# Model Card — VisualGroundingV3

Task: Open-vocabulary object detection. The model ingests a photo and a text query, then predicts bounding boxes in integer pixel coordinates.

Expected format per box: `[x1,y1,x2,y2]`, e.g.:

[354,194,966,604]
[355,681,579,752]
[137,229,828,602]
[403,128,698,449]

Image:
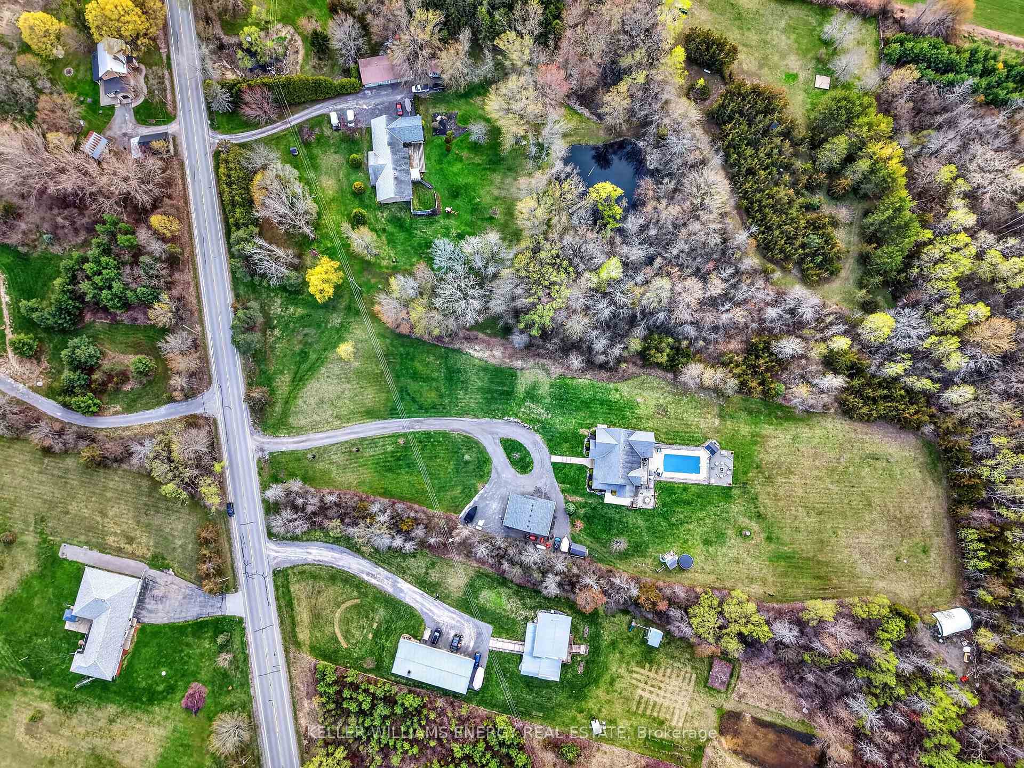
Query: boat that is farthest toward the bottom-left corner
[474,667,487,694]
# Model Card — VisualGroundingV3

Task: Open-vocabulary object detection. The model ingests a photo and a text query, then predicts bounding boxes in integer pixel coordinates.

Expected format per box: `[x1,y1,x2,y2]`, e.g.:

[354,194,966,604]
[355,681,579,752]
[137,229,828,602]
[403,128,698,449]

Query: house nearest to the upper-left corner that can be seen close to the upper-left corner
[92,40,137,99]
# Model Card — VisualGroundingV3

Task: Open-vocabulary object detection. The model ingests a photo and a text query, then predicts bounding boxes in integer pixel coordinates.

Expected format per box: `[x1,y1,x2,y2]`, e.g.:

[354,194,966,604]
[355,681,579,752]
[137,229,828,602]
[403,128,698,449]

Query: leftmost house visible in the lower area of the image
[70,566,145,681]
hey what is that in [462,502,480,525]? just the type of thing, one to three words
boat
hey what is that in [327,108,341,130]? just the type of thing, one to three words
vehicle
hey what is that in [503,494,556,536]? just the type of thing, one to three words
building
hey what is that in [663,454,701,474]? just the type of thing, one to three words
swimming pool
